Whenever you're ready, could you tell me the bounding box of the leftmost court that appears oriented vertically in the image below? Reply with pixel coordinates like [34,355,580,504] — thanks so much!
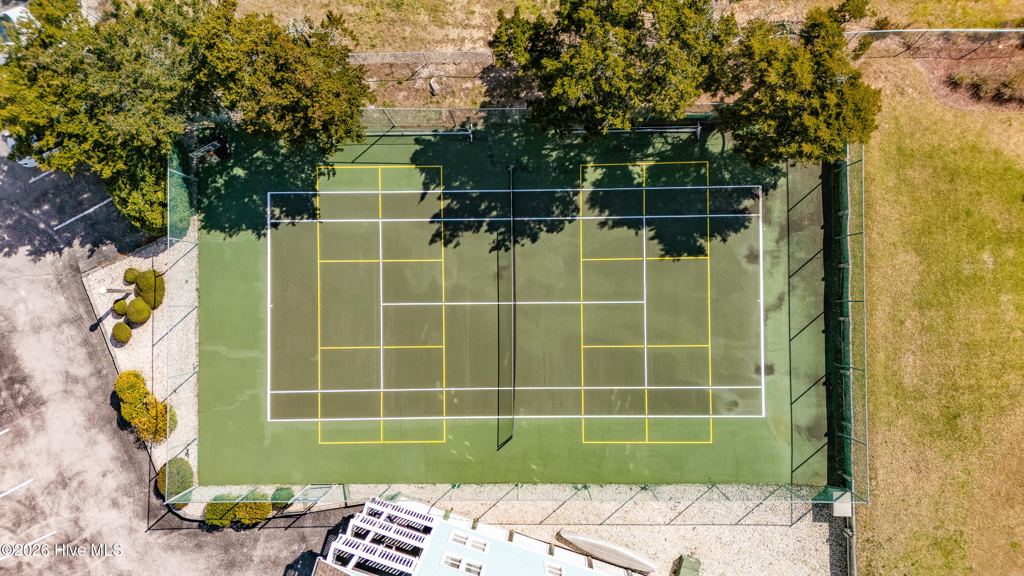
[317,165,445,444]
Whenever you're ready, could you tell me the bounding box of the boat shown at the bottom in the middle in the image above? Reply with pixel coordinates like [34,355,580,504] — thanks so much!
[559,531,656,575]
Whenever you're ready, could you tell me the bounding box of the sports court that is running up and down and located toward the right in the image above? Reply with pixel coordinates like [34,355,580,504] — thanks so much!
[580,161,712,443]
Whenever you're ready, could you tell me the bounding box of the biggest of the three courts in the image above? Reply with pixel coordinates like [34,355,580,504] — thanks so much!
[197,123,829,485]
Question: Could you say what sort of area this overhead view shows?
sports ground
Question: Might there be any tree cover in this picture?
Yes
